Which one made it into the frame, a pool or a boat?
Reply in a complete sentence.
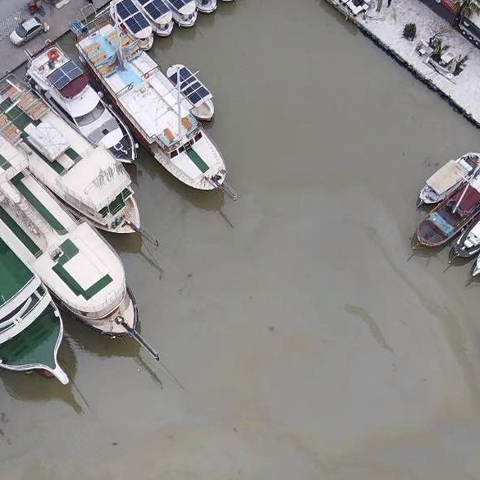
Of the two, only a boat appears.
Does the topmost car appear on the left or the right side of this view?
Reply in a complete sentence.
The topmost car is on the left side of the image.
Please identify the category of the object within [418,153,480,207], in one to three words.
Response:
boat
